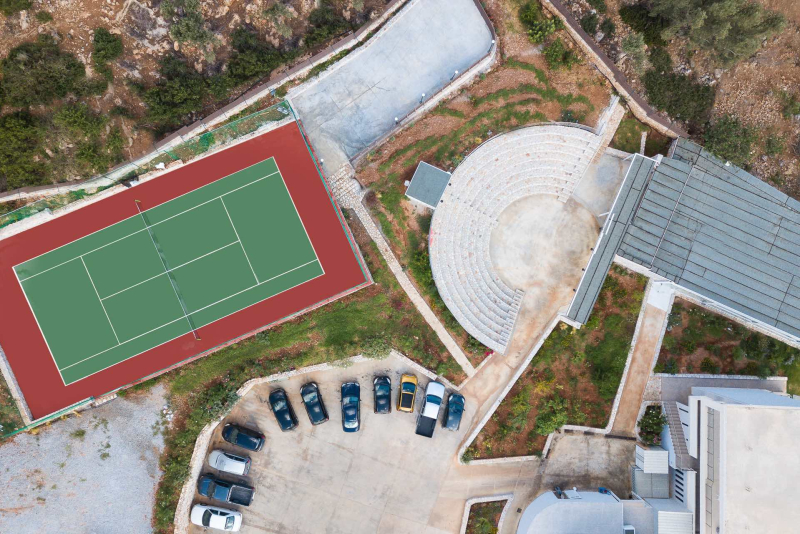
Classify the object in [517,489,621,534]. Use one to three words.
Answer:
building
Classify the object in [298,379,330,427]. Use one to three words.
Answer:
car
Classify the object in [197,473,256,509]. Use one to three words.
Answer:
truck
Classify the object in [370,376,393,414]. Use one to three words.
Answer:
car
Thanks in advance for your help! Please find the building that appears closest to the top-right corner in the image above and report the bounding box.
[613,137,800,353]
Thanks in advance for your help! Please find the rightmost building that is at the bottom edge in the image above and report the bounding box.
[687,389,800,534]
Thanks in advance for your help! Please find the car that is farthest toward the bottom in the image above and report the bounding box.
[190,501,245,534]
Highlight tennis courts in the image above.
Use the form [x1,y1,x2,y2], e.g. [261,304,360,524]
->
[0,114,373,427]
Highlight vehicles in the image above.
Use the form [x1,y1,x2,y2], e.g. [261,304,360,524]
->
[338,381,362,433]
[190,501,245,534]
[397,373,420,414]
[370,376,393,414]
[221,420,266,454]
[208,447,253,479]
[441,392,468,433]
[266,386,300,435]
[197,473,256,509]
[415,379,445,440]
[298,379,330,427]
